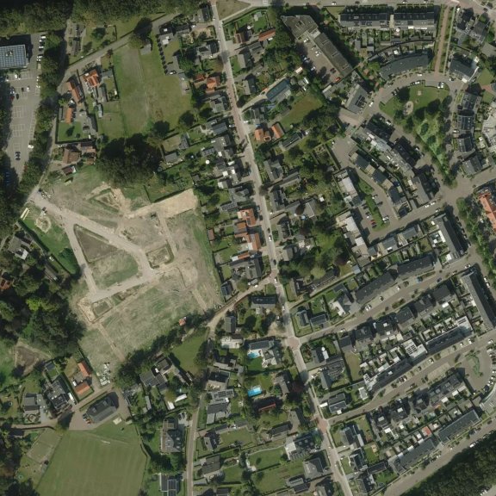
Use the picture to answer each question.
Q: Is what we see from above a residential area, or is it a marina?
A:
residential area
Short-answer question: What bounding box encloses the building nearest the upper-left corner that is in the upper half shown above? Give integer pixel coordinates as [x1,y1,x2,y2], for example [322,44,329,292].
[0,44,27,68]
